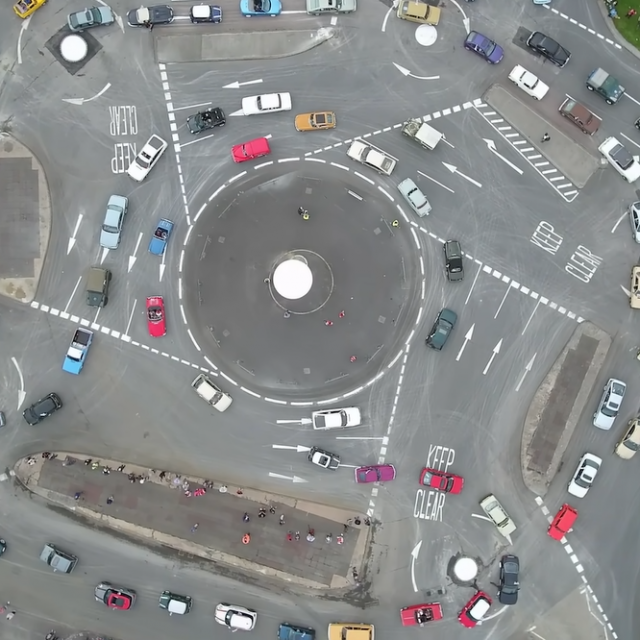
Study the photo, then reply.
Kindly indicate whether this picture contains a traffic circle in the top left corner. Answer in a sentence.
Yes, in the top left corner there is a traffic circle.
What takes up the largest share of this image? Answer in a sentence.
What you mostly see from above here is paved ground.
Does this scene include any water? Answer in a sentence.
No, there is no water in the image.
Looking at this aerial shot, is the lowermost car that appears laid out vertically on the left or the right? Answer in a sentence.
You can find the lowermost car that appears laid out vertically on the right side of the picture.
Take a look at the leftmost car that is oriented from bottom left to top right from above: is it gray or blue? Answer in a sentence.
The color of the leftmost car that is oriented from bottom left to top right is gray.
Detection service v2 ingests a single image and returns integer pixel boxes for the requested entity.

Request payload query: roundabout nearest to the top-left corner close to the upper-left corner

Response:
[46,25,103,76]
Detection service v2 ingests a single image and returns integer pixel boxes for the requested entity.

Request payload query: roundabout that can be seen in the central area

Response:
[179,159,425,405]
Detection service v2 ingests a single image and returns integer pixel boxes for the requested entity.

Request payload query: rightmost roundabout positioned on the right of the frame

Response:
[448,554,480,586]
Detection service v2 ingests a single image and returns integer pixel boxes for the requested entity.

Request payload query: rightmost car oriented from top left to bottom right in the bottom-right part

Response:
[480,494,515,536]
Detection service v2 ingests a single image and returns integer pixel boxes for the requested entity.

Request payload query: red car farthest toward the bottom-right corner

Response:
[548,504,578,540]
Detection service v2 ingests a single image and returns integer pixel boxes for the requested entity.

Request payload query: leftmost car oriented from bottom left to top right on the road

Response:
[23,394,61,424]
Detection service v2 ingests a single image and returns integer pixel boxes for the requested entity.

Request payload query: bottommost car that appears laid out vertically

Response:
[499,554,521,604]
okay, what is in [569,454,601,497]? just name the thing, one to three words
car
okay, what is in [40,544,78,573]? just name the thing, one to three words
truck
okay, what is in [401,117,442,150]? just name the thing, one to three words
vehicle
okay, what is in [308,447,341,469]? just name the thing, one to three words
car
